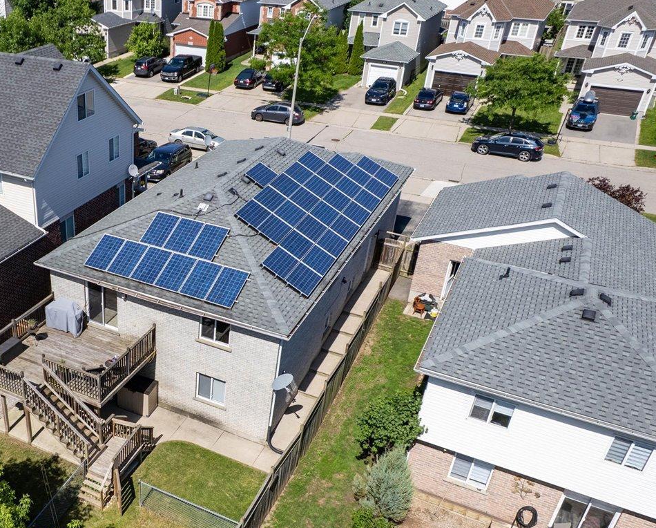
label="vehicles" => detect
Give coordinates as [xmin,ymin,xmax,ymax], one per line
[159,55,204,81]
[366,75,397,103]
[257,69,295,92]
[251,100,305,125]
[571,98,603,130]
[230,68,262,89]
[443,92,476,114]
[133,53,167,76]
[166,126,220,150]
[411,86,447,110]
[473,131,547,164]
[133,138,169,163]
